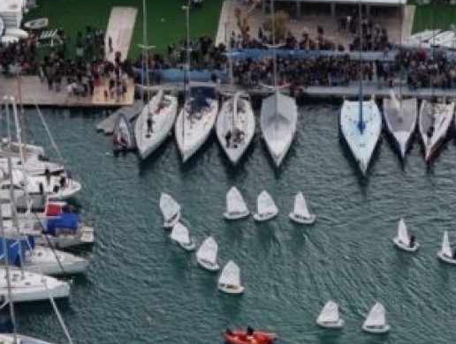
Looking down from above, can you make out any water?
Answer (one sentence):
Yes, there's water in this view.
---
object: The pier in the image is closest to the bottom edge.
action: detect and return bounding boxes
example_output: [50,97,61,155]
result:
[97,107,140,138]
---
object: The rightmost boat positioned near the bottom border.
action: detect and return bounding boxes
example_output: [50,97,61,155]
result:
[359,305,390,335]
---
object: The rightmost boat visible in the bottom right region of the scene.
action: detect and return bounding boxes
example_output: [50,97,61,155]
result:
[437,235,456,265]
